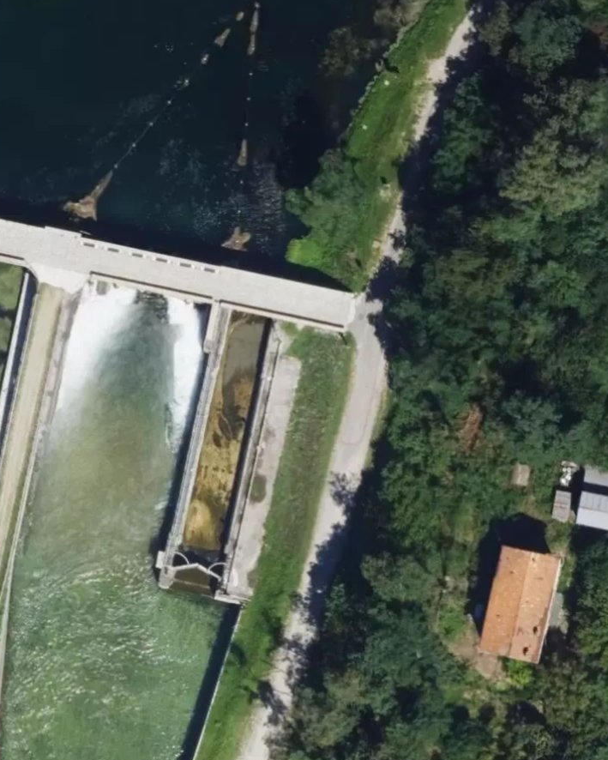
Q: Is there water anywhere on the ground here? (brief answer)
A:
Yes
